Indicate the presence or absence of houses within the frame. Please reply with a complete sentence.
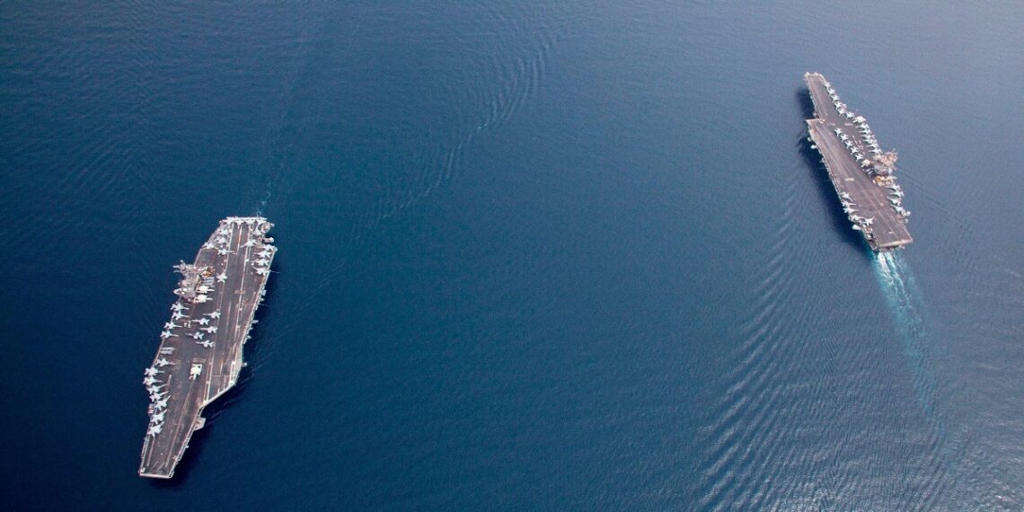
No, no house is visible in the scene.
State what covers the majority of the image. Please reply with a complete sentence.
The largest share of the image is taken up by water.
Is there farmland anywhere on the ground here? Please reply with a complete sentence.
No, the picture contains no farmland.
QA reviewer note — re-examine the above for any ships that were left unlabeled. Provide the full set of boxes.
[805,75,914,248]
[137,216,280,481]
